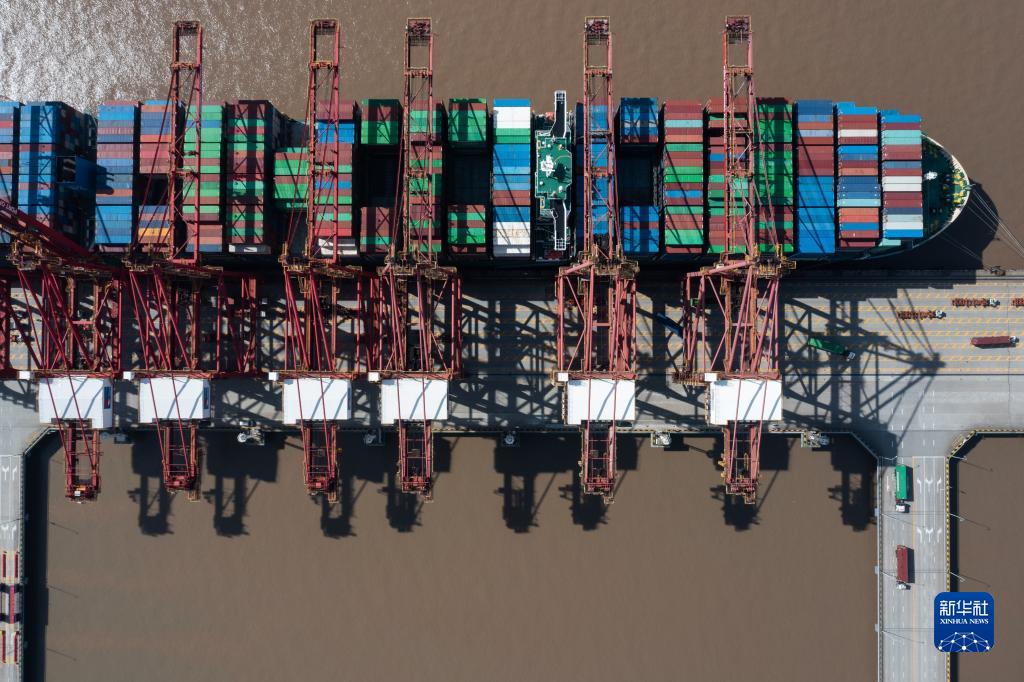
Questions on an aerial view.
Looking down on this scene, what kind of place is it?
port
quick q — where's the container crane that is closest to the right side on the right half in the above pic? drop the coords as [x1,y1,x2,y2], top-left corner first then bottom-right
[655,16,800,507]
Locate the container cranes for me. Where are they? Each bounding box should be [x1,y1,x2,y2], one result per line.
[0,261,104,379]
[655,16,800,507]
[118,22,285,506]
[367,16,480,507]
[265,22,389,506]
[0,189,185,507]
[537,16,643,507]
